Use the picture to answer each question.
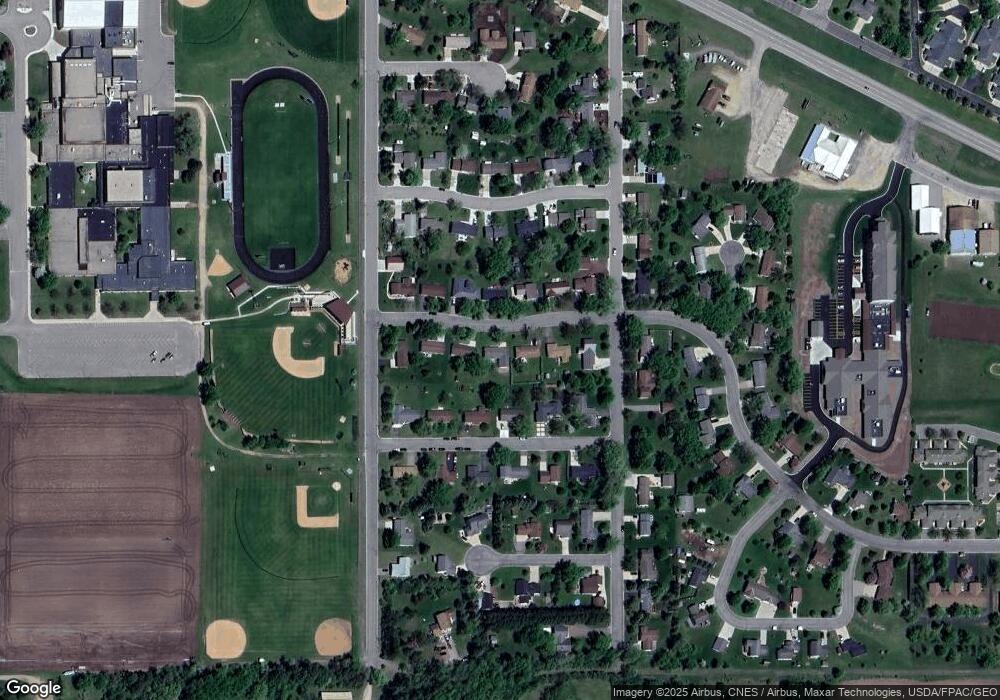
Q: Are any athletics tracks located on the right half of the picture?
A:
No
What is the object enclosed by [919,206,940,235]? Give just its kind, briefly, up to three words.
shed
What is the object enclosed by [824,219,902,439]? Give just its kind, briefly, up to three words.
building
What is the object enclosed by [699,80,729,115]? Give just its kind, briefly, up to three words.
barn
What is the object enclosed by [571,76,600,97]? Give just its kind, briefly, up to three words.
house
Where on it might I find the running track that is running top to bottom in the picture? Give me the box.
[230,65,331,284]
